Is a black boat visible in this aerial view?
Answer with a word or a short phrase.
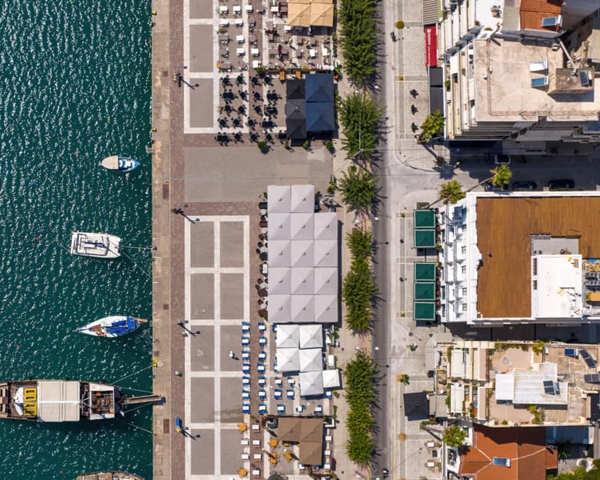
No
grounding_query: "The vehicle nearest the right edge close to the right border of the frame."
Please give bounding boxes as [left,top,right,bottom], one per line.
[547,175,580,190]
